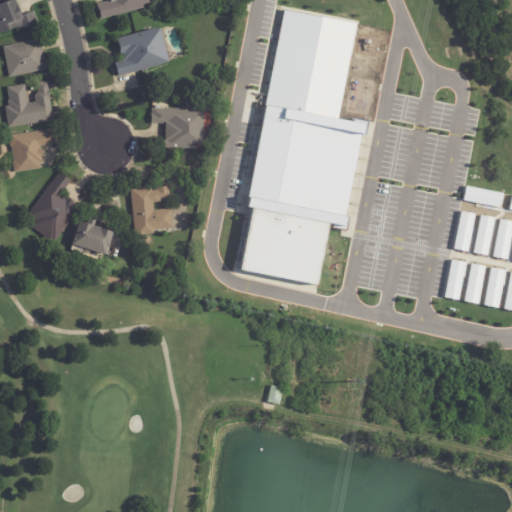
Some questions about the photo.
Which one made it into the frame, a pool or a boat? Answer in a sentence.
This aerial view contains a pool.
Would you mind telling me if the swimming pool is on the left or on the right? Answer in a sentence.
The swimming pool appears in the left half of the scene.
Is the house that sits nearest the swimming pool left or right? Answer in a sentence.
The house that sits nearest the swimming pool appears in the left half of the scene.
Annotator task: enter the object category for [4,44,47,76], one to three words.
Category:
house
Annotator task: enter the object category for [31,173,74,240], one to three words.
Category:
house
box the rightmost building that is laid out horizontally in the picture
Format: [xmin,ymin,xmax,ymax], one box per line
[464,186,504,208]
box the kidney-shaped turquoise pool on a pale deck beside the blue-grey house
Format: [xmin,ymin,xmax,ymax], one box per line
[161,27,187,60]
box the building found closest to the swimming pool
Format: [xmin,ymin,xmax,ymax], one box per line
[116,28,170,76]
